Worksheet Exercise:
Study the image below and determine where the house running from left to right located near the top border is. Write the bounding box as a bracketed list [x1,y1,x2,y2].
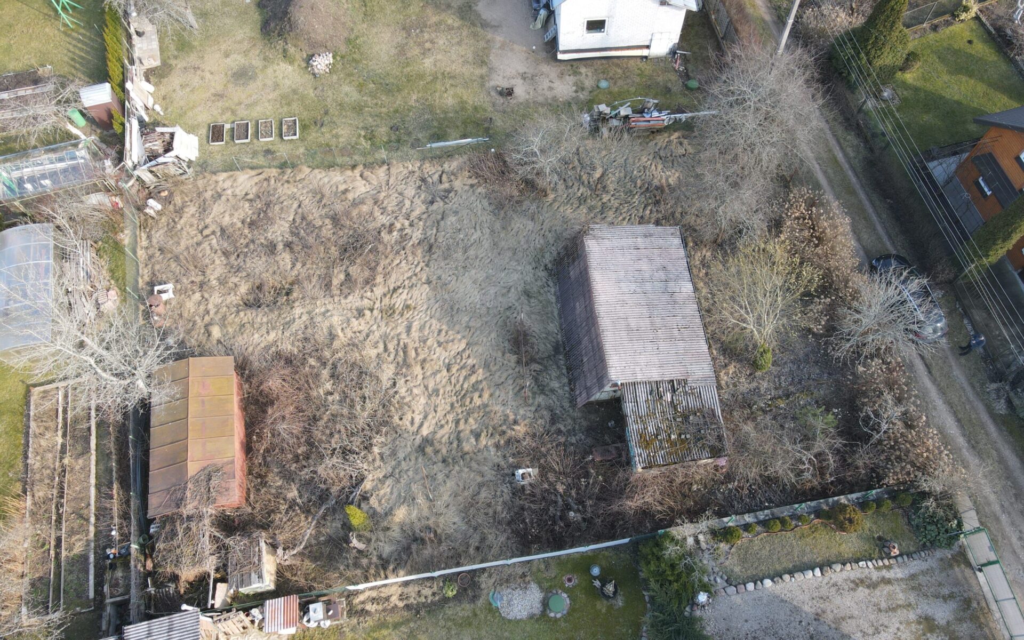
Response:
[549,0,691,60]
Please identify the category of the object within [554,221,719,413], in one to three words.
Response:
house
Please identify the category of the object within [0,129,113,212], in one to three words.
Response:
greenhouse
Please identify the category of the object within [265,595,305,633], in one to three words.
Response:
shed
